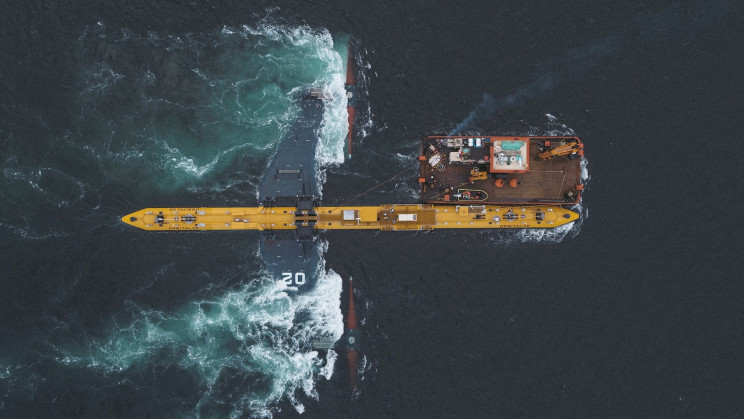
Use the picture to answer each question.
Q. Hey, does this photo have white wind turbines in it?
No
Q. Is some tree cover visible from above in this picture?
No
